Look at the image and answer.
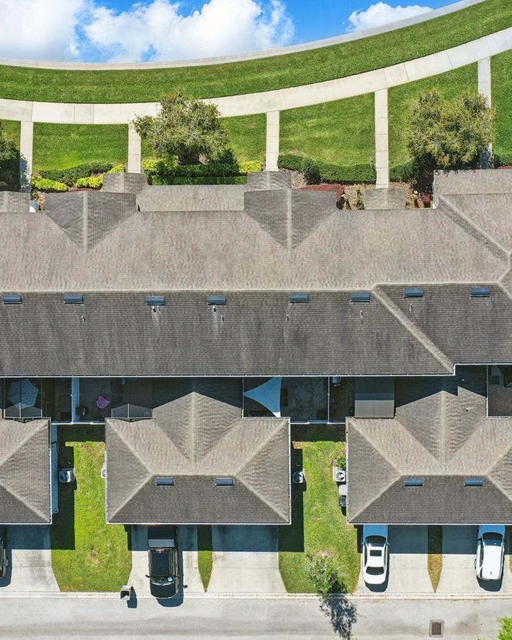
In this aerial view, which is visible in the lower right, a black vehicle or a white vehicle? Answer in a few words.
white vehicle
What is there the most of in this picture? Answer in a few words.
buildings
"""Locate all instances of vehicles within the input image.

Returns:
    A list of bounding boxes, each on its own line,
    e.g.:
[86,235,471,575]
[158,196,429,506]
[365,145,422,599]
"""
[0,526,10,580]
[359,526,392,586]
[146,526,181,594]
[474,526,509,580]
